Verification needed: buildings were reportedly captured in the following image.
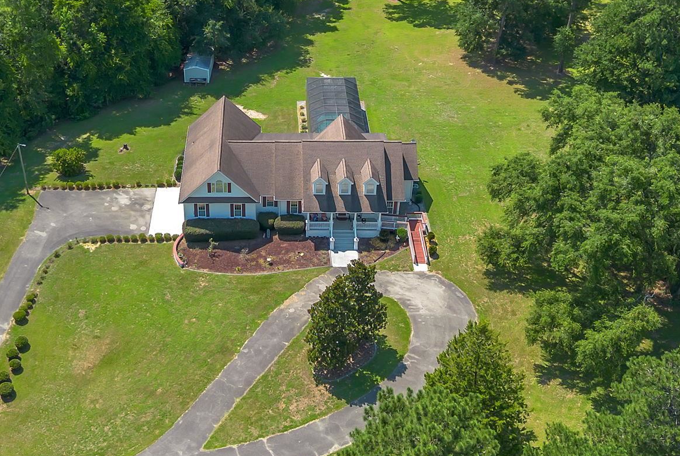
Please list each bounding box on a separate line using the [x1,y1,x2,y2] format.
[178,96,419,250]
[182,49,214,83]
